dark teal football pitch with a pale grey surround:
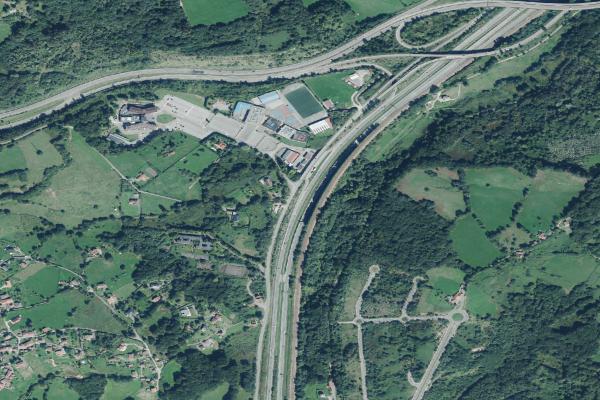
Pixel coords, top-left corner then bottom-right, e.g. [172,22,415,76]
[281,81,328,124]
